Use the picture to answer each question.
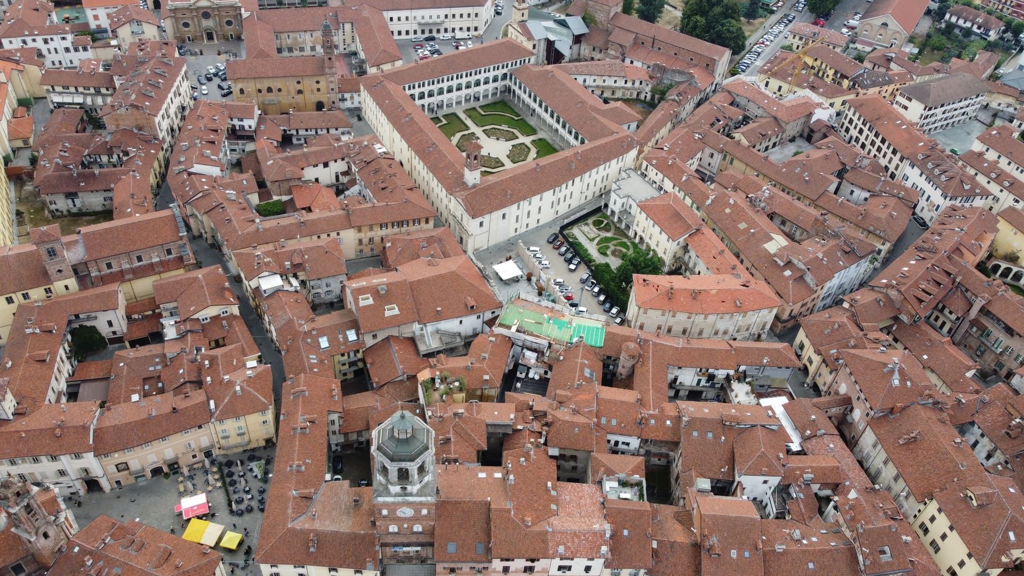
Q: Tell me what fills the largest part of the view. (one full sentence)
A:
What you mostly see from above here is buildings.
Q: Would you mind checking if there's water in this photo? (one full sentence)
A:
No, there is no water in the image.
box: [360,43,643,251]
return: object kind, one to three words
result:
building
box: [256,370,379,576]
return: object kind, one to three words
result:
house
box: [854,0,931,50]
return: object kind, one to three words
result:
building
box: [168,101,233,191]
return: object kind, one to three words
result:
house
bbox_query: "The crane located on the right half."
[734,34,825,84]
